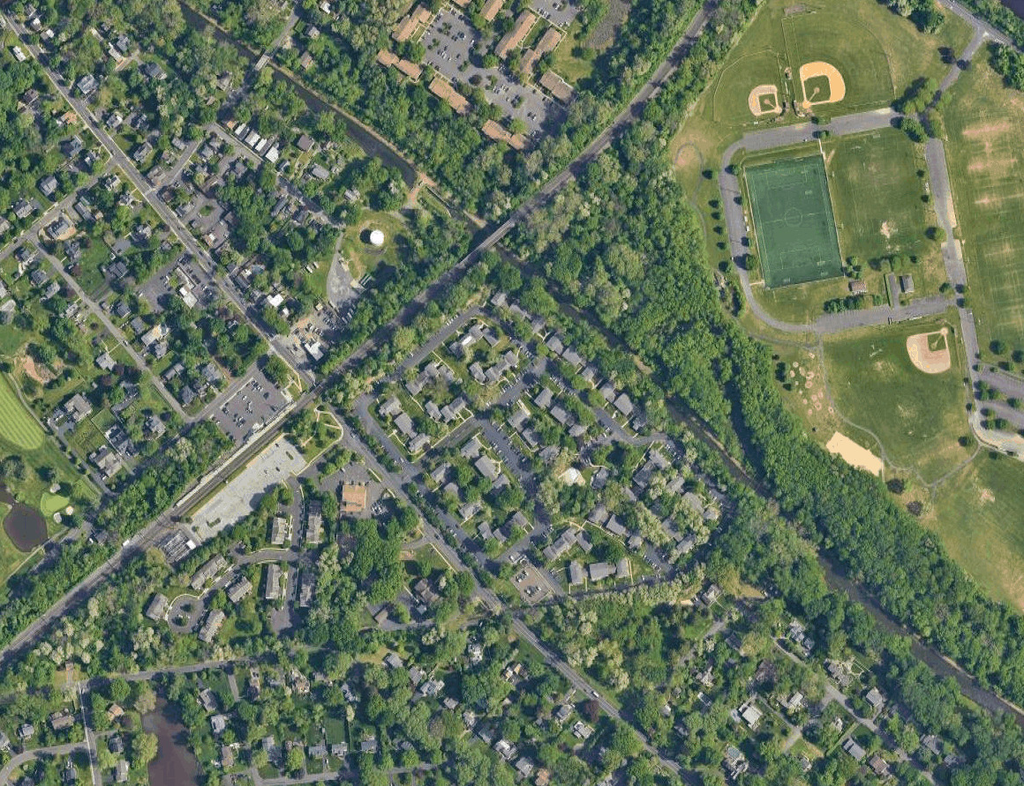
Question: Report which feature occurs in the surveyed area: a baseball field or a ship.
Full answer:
Of the two, only a baseball field appears.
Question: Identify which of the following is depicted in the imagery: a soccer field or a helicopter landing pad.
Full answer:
Visible in the photo is a soccer field.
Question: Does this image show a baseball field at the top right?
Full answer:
Yes, a baseball field appears at the top right.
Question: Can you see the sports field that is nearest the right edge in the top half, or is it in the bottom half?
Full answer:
The sports field that is nearest the right edge sits in the top half of the picture.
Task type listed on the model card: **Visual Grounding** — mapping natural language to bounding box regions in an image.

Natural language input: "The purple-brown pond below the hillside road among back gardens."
[142,704,201,786]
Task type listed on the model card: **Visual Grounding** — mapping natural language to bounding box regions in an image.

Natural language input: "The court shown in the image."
[827,432,882,476]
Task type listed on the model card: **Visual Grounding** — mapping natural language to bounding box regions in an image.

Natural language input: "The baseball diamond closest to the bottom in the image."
[823,327,954,460]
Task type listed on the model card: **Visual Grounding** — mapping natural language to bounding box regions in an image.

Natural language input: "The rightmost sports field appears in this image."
[956,92,1024,347]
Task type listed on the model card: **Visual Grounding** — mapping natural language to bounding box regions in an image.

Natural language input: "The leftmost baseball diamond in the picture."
[712,50,782,121]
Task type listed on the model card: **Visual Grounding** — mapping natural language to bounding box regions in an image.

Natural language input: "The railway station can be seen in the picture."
[175,401,295,505]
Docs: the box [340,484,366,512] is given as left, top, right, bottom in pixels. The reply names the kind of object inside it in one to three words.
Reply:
building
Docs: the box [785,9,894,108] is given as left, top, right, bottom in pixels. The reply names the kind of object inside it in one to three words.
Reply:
baseball field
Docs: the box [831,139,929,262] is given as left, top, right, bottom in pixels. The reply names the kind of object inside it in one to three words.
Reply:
sports field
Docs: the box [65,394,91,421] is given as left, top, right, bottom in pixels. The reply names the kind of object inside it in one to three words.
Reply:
house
